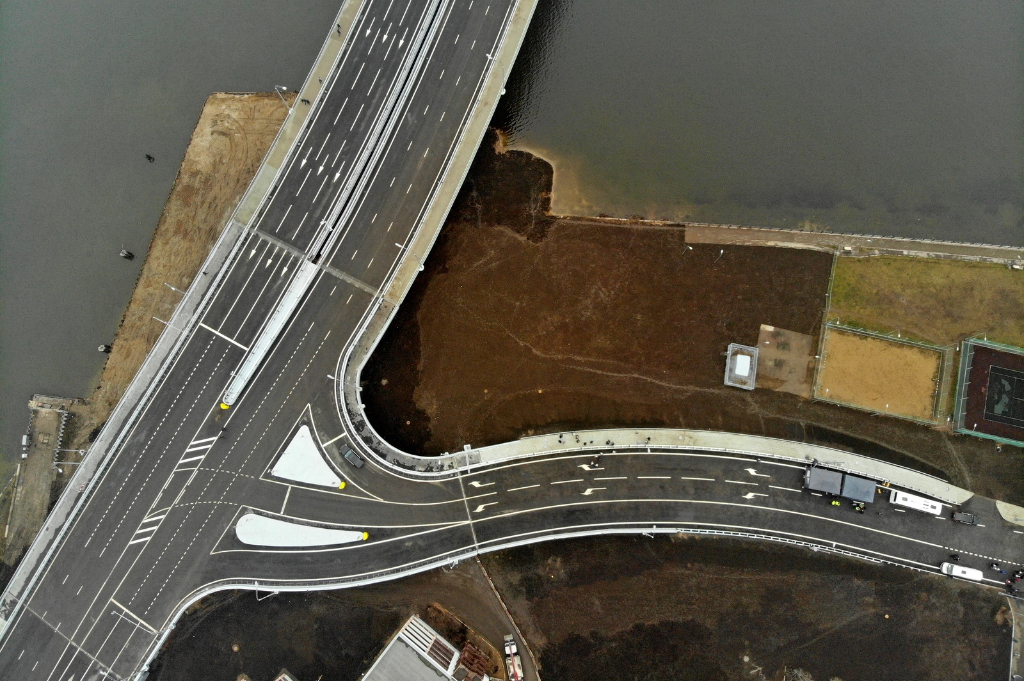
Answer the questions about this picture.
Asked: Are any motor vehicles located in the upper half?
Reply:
No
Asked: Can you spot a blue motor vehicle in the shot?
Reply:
No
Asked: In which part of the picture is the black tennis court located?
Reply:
right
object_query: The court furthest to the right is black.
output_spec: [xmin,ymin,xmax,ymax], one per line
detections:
[964,344,1024,444]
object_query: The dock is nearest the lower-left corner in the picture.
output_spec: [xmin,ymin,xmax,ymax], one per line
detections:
[4,394,76,537]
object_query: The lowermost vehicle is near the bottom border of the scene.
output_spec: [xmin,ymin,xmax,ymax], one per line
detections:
[503,635,523,681]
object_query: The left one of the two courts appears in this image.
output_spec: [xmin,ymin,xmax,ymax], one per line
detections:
[816,329,943,421]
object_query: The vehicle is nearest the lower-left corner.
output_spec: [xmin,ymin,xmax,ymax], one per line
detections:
[341,443,364,469]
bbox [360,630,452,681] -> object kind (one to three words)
building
